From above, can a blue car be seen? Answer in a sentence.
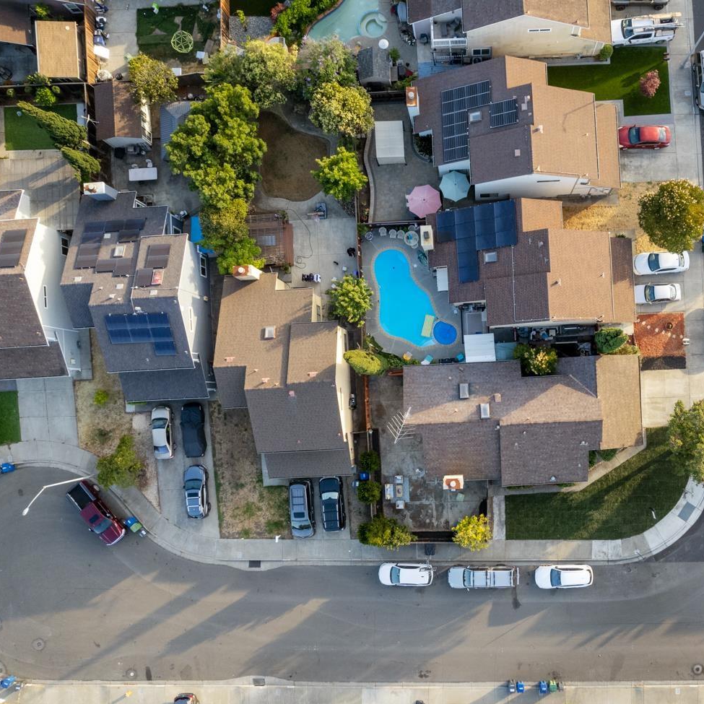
Yes, a blue car can be made out from above.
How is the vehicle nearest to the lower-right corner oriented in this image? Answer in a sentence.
The vehicle nearest to the lower-right corner is oriented from left to right.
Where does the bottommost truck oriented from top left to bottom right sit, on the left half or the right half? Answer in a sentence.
The bottommost truck oriented from top left to bottom right sits on the left side.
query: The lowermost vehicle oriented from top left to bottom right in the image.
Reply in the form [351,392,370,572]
[67,479,126,546]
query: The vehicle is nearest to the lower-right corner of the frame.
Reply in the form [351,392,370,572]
[534,562,594,592]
